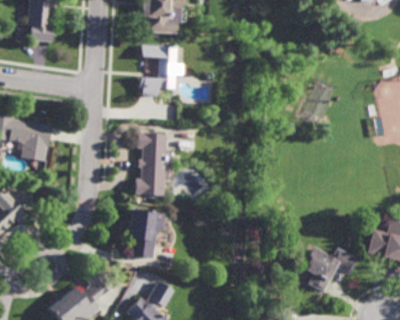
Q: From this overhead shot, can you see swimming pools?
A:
Yes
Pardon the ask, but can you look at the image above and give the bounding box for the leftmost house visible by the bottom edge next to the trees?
[44,277,108,320]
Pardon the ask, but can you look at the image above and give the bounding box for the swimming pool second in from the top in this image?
[3,155,30,172]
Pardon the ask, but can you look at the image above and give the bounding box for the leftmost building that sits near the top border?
[30,0,56,42]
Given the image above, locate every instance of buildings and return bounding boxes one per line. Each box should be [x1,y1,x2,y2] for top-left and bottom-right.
[368,218,400,261]
[132,278,176,320]
[127,210,168,260]
[134,134,170,196]
[144,0,190,34]
[0,196,26,238]
[142,43,186,96]
[44,277,108,320]
[179,140,195,153]
[307,244,358,296]
[0,112,53,164]
[30,0,56,42]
